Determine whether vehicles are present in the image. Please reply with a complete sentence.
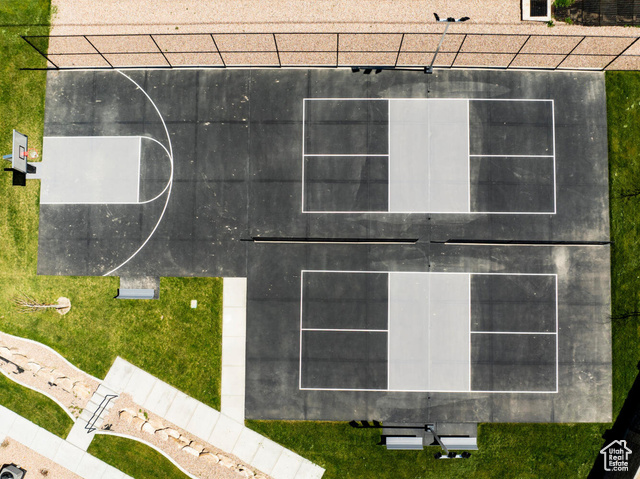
No, I find no vehicle anywhere in the image.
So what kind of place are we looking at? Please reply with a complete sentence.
The area seen from above is a sports ground.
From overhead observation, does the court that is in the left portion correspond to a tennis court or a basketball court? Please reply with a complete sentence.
The court that is in the left portion in the image is a basketball court.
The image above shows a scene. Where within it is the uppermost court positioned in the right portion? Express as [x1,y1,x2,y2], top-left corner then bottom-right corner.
[248,68,609,243]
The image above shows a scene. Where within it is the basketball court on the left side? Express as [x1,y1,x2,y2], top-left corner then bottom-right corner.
[37,68,248,278]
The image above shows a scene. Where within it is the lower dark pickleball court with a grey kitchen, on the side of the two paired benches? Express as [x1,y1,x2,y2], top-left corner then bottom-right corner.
[245,241,612,423]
